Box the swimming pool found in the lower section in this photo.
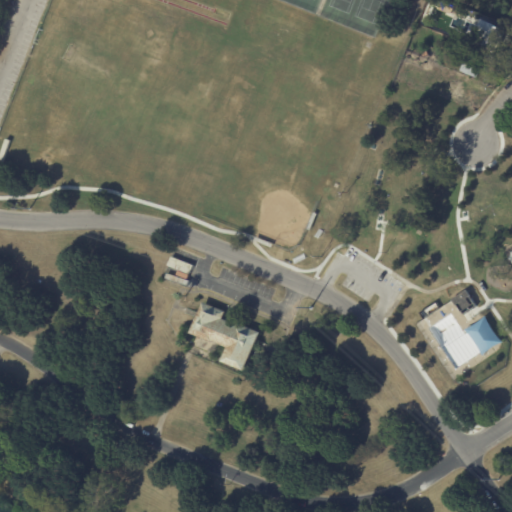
[418,302,504,380]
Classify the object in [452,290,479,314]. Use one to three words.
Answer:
building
